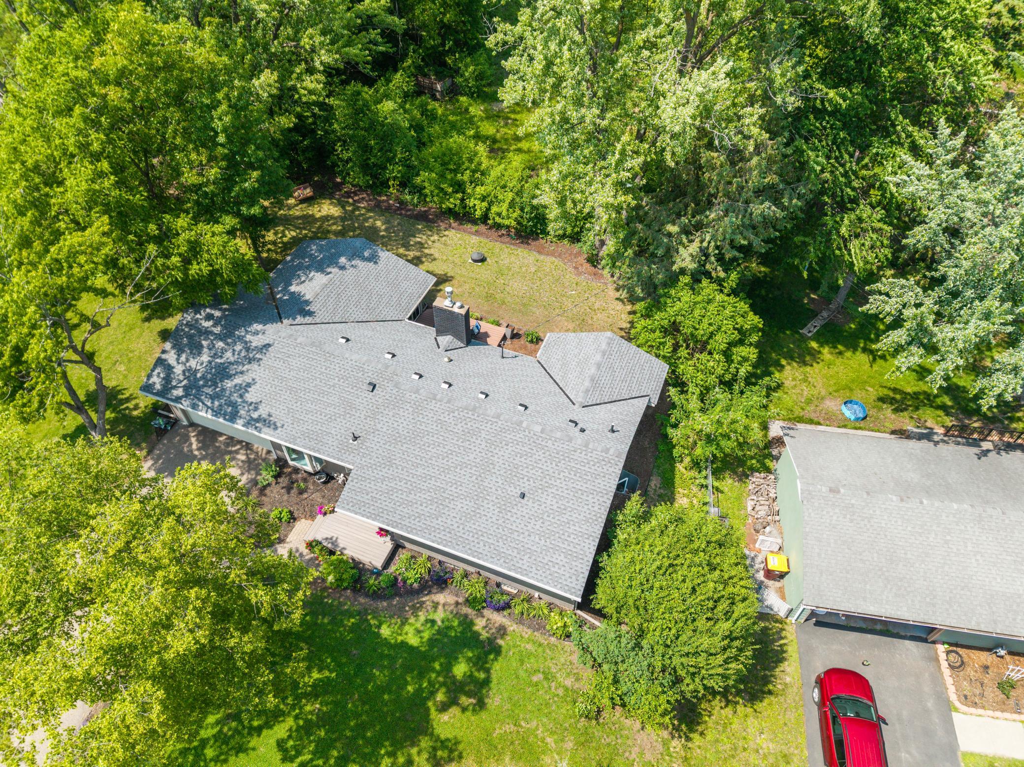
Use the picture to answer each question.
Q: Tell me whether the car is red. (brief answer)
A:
Yes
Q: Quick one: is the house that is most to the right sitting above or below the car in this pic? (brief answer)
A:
above it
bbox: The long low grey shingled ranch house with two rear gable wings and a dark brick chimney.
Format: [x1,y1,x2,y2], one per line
[137,237,669,611]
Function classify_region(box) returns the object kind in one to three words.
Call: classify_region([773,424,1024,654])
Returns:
house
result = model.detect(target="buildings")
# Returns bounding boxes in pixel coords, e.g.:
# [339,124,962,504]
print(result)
[773,424,1024,654]
[137,237,669,611]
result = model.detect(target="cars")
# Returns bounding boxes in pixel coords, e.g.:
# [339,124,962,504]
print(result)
[807,666,887,767]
